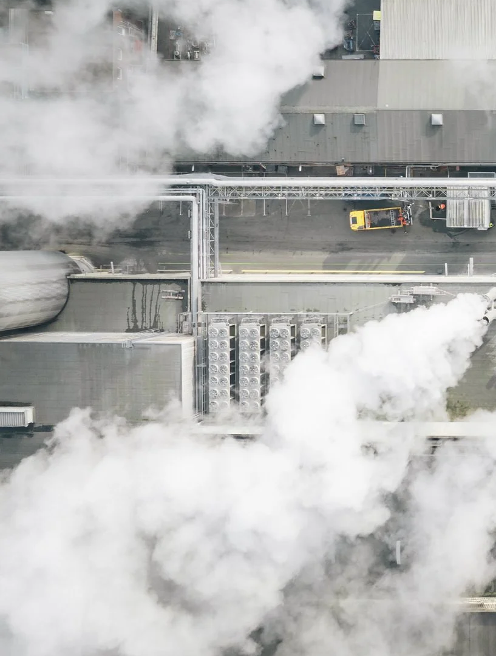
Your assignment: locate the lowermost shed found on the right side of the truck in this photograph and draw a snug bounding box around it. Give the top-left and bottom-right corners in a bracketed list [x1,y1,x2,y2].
[447,191,491,229]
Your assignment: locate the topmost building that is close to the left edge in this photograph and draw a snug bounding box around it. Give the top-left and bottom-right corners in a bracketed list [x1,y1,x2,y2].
[0,10,172,168]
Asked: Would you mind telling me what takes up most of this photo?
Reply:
buildings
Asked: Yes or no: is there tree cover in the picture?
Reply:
No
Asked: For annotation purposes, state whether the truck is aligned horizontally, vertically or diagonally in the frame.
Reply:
horizontally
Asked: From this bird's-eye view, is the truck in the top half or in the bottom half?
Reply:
top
